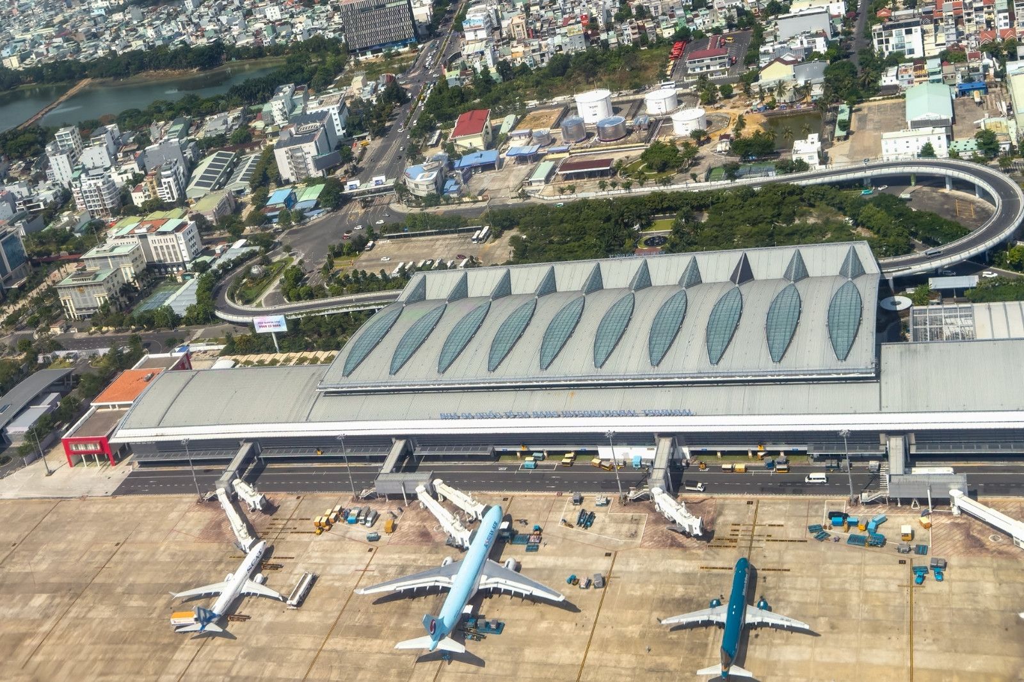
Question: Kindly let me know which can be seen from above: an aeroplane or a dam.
aeroplane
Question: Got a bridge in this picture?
Yes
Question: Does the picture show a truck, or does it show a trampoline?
truck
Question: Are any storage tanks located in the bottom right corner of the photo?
No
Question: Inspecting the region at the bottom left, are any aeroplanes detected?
Yes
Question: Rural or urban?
urban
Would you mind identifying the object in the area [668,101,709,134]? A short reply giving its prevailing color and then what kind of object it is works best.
white storage tank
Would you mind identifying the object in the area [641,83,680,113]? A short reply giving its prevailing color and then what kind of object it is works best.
white storage tank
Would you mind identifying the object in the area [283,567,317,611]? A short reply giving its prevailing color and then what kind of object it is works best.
white truck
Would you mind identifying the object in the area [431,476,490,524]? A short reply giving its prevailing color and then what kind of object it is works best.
white jet bridge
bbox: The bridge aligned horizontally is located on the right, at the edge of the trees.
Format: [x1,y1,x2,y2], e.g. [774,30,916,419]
[512,157,1024,284]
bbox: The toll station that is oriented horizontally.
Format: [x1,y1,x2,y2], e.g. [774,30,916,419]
[332,179,399,206]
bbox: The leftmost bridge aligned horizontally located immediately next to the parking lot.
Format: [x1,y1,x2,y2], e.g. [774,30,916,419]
[211,267,395,324]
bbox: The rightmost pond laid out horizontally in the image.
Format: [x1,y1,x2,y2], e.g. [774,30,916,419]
[755,112,832,148]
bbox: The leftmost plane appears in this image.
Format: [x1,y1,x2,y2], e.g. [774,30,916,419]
[168,543,286,629]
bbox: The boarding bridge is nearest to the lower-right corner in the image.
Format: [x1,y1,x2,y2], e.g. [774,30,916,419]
[947,486,1024,553]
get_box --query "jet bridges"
[413,483,474,550]
[214,489,258,551]
[431,476,490,524]
[235,477,273,519]
[648,487,710,543]
[947,486,1024,553]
